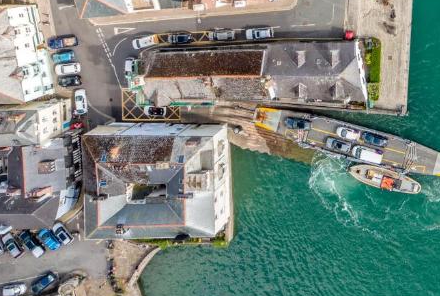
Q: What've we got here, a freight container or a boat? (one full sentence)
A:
Of the two, only a boat appears.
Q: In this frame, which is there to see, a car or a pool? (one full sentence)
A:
There is a car in the scene.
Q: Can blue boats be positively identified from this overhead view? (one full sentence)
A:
No, there's no blue boat here.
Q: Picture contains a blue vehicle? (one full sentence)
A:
Yes, there's a blue vehicle down there.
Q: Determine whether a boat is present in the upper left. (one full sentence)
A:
No, I can find no boat in the upper left.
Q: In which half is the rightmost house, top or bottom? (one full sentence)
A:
You can find the rightmost house in the top half.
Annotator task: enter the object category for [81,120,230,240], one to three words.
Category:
house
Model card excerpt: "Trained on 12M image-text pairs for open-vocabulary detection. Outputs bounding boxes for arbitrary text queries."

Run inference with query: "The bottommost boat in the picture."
[348,165,422,193]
